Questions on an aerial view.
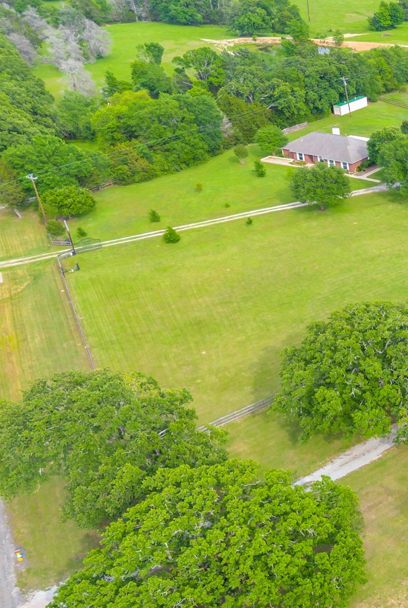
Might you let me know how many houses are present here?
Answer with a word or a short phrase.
1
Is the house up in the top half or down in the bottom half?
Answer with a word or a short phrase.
top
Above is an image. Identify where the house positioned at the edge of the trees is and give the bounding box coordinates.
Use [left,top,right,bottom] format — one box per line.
[282,123,372,171]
